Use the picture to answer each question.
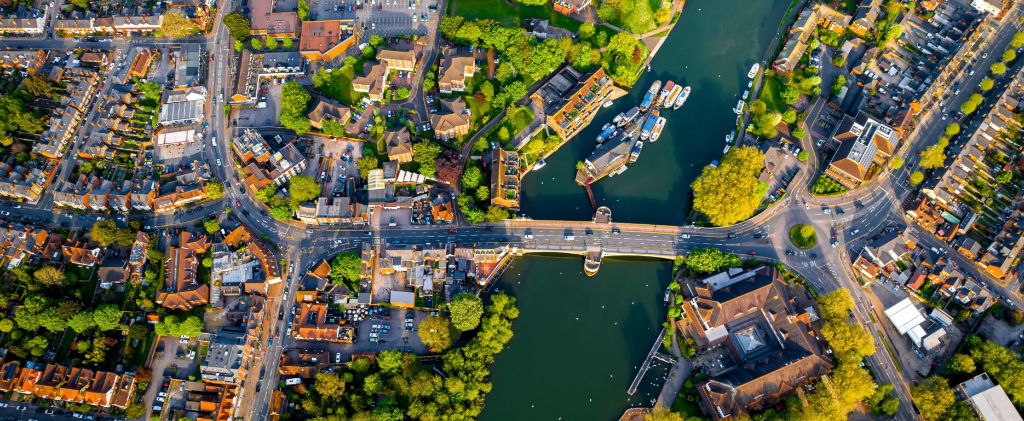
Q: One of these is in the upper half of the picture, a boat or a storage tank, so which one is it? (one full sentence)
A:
You can see a boat in the upper half of the picture.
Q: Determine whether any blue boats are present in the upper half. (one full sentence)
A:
Yes, the scene does show a blue boat in the upper half.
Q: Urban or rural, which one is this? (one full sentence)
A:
The area is urban.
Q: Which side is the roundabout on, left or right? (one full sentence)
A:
The roundabout appears in the right half of the scene.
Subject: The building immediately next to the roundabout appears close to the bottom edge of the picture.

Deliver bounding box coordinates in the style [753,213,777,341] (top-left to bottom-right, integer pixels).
[674,266,832,421]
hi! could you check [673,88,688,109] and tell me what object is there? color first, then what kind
white boat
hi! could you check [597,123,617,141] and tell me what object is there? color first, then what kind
blue boat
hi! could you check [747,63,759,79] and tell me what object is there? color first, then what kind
white boat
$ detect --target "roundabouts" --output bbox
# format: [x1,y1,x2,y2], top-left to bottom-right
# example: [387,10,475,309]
[771,207,837,267]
